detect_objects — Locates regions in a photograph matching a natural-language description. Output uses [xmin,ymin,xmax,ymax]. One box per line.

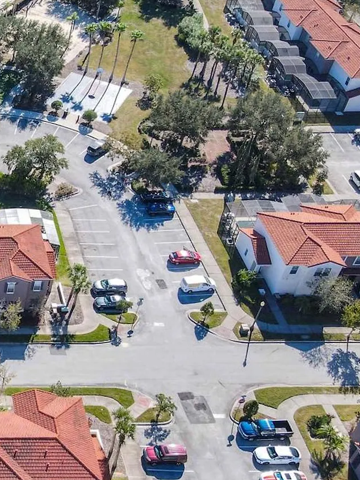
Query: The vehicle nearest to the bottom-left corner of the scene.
[142,443,190,465]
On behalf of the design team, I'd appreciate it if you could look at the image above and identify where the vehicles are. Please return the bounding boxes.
[177,274,218,293]
[258,469,306,480]
[166,250,203,266]
[238,417,295,441]
[94,295,131,311]
[144,203,178,217]
[82,140,112,157]
[354,129,360,141]
[142,443,190,465]
[252,445,302,467]
[349,172,360,191]
[91,277,130,295]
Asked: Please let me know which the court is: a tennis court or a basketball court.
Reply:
basketball court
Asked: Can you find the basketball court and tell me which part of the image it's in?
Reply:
top left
